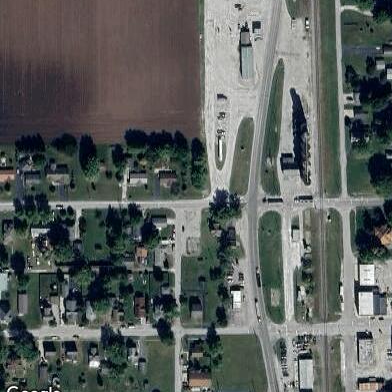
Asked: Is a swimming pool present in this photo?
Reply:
No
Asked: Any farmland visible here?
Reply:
Yes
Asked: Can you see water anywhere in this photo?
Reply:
No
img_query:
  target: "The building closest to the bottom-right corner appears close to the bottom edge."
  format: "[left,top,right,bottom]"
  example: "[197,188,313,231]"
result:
[361,377,383,392]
